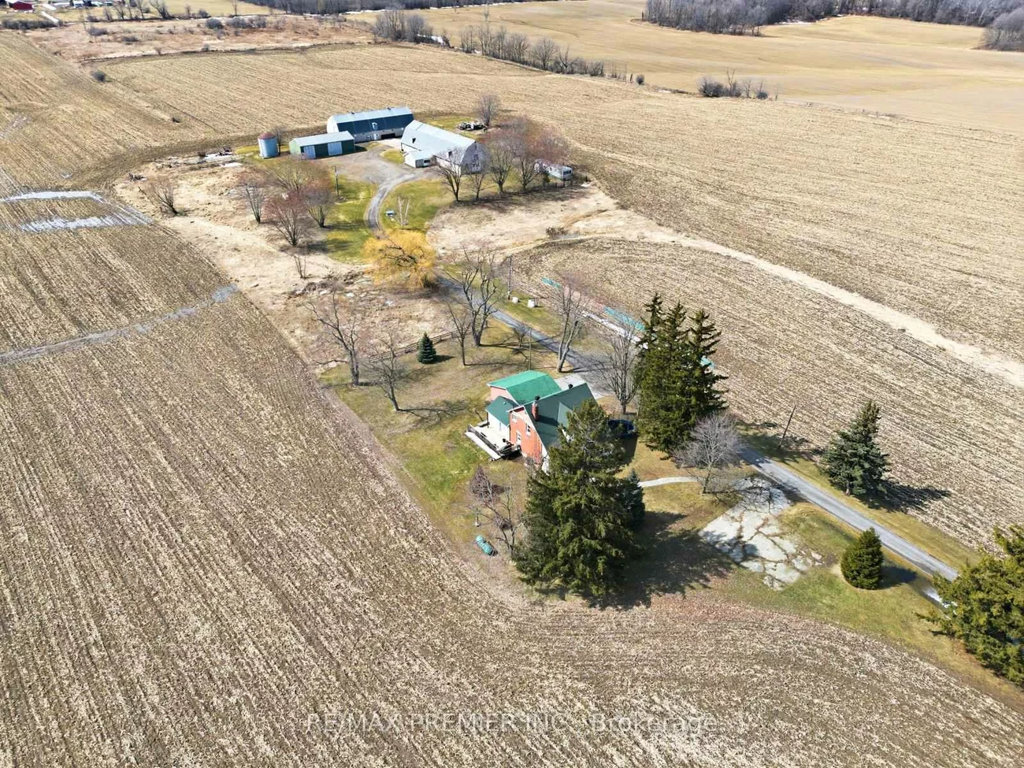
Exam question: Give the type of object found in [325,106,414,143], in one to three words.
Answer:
barn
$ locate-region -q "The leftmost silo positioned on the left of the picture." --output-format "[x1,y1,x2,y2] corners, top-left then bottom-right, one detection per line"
[257,129,281,157]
